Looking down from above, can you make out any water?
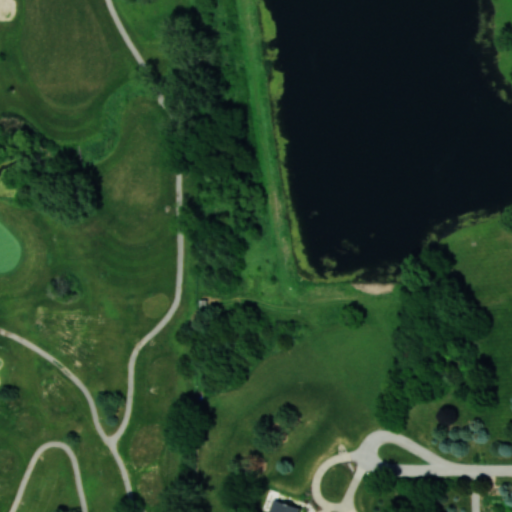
Yes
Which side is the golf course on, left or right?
left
